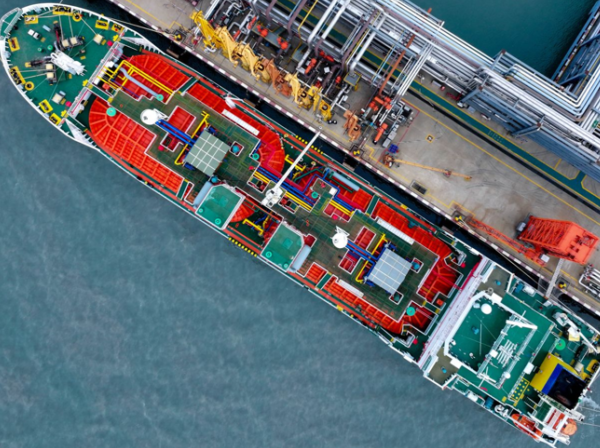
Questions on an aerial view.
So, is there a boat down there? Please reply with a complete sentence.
Yes, looking at the shot, I can spot a boat.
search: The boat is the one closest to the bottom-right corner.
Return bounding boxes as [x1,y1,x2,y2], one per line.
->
[562,418,576,435]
